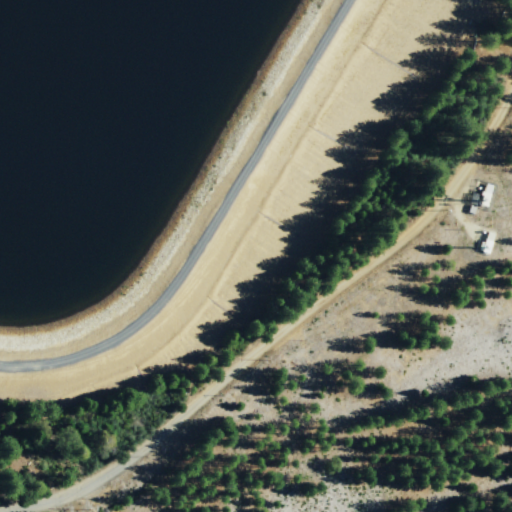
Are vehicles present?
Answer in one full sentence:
No, there is no vehicle in the image.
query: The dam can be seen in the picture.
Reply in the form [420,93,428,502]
[0,0,462,418]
